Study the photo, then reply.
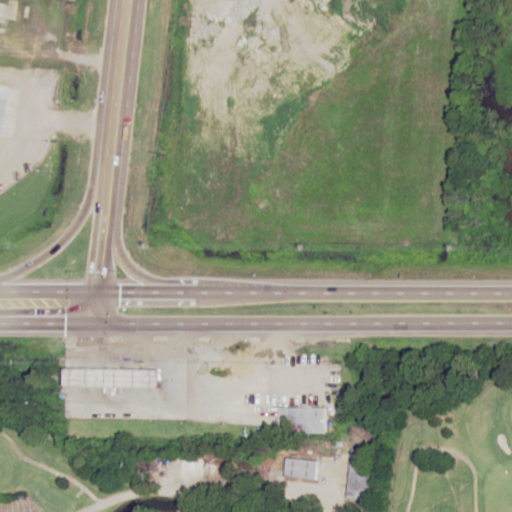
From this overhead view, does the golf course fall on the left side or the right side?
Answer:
right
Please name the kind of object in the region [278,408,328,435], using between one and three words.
building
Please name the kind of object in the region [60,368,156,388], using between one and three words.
building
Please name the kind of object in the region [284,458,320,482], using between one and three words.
shed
